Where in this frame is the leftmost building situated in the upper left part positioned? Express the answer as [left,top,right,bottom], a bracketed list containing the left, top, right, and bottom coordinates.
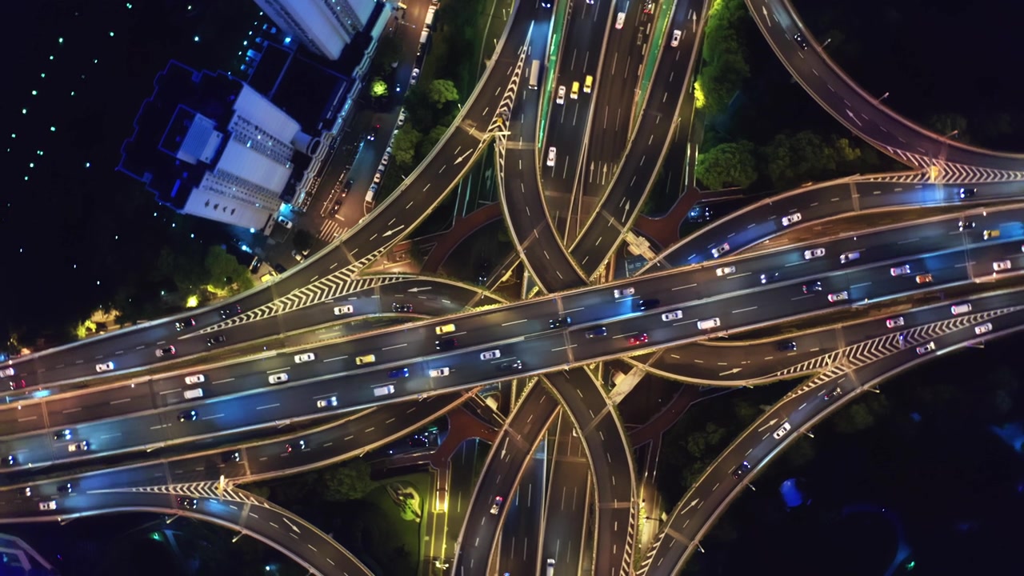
[113,58,301,240]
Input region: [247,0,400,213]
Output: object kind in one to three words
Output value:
building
